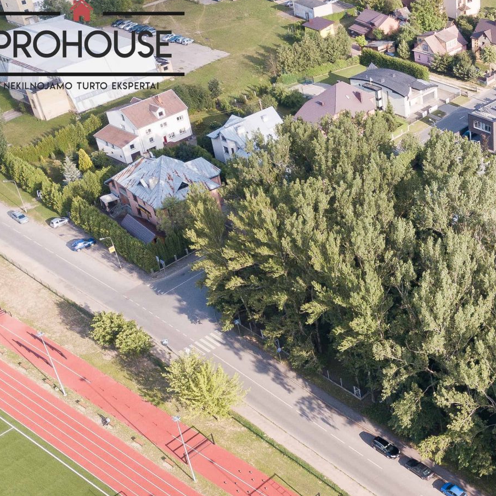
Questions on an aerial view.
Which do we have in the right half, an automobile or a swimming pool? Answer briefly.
automobile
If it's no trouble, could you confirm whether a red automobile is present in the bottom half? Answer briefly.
No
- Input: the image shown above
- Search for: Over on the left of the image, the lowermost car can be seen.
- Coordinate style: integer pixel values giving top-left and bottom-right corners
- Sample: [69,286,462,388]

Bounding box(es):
[69,238,98,251]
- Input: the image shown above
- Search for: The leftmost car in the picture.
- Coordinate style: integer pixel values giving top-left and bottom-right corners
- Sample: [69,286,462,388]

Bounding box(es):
[10,210,30,223]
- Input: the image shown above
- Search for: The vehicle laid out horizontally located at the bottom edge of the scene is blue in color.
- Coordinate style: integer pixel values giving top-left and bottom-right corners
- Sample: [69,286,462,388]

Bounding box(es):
[439,482,469,496]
